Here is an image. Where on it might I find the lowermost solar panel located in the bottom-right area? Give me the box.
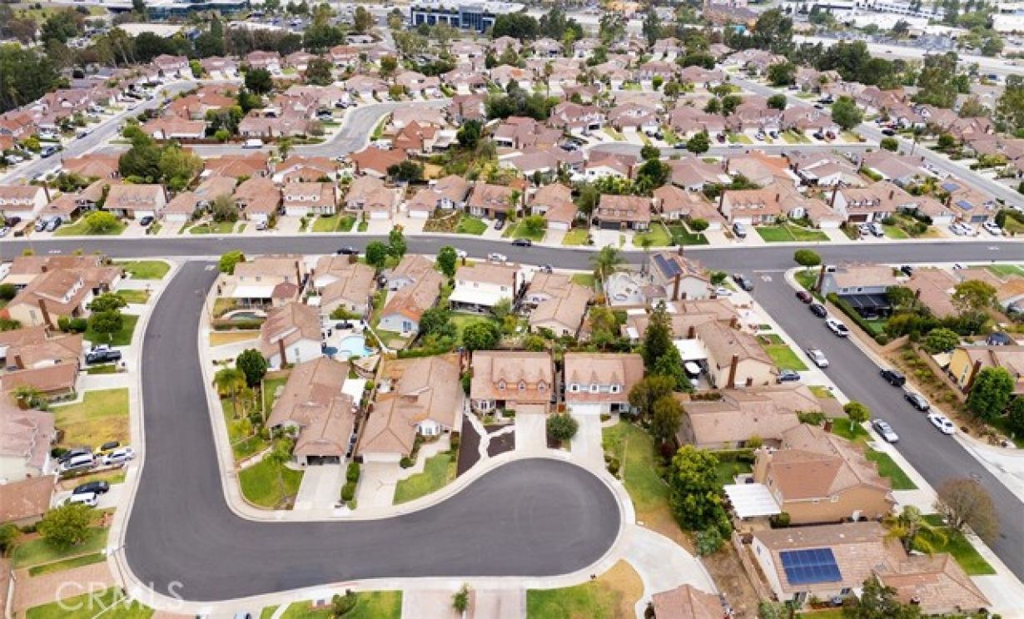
[782,552,838,583]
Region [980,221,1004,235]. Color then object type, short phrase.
white car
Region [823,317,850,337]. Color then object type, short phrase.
white vehicle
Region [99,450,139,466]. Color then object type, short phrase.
white car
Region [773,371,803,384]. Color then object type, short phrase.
gray vehicle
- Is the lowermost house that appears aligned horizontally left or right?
right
